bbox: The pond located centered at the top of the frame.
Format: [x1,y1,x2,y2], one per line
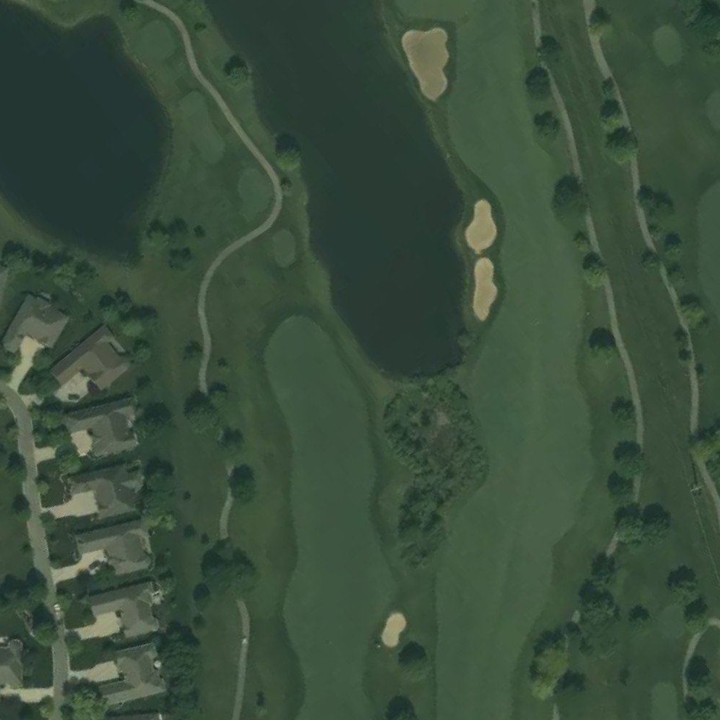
[207,0,463,376]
